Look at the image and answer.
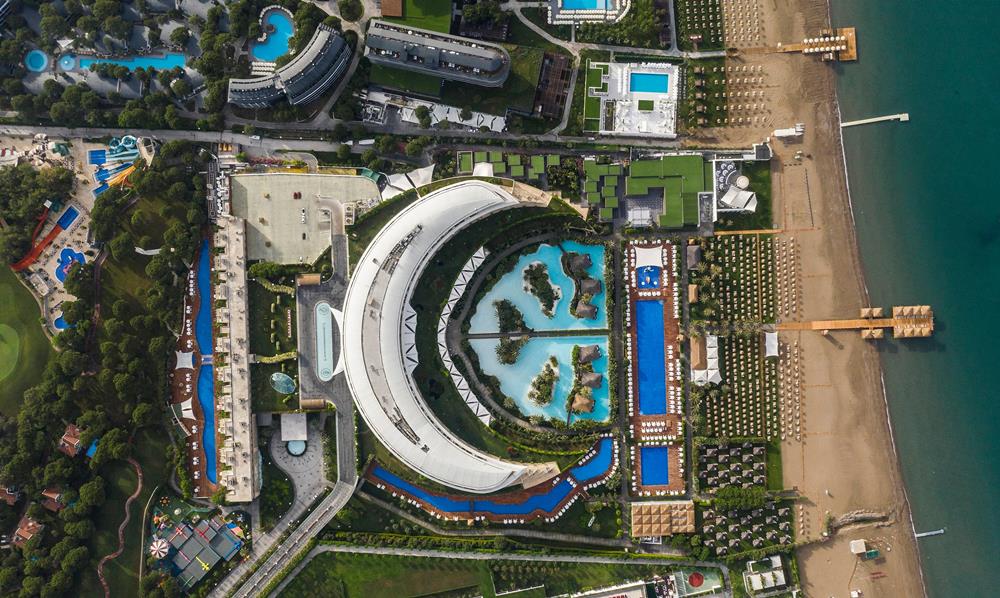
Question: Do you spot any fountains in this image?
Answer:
Yes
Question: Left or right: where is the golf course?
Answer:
left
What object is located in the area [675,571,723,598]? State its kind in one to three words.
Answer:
sports court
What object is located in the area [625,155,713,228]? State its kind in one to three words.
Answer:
building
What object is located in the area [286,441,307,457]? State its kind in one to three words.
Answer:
fountain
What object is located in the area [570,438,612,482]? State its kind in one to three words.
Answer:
swimming pool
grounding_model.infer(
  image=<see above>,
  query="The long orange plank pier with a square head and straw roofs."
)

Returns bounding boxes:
[776,306,934,339]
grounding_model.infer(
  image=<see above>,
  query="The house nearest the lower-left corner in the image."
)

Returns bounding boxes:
[12,516,46,552]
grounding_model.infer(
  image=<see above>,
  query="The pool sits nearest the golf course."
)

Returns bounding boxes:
[54,316,74,330]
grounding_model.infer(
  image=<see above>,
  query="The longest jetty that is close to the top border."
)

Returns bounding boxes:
[728,26,856,61]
